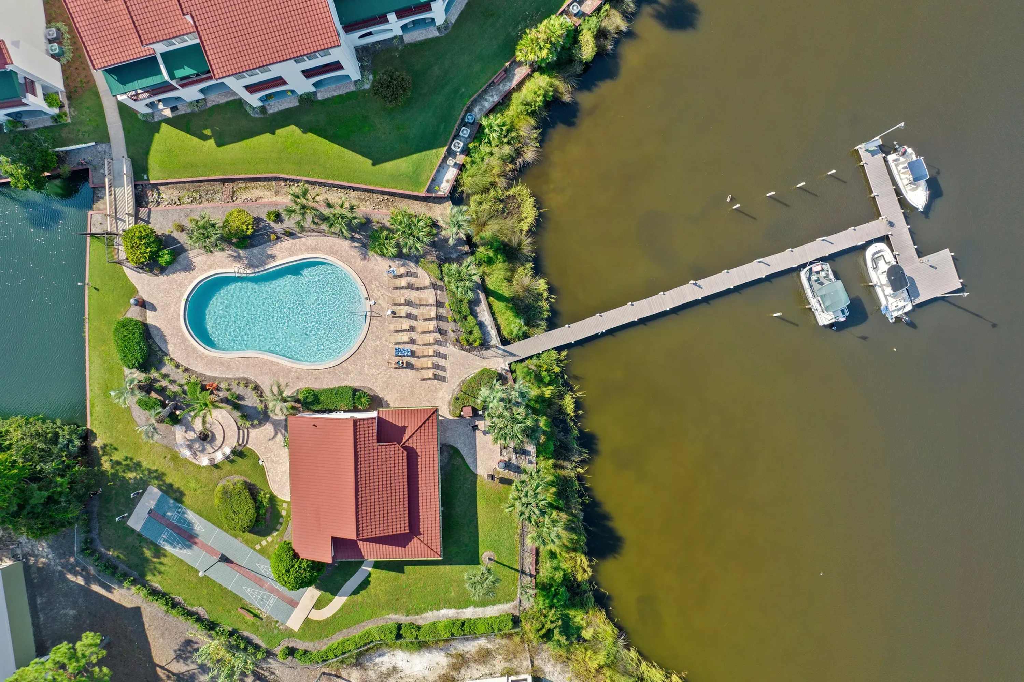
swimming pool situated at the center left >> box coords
[180,254,379,369]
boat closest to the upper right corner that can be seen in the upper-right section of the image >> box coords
[888,144,930,213]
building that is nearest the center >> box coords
[287,406,444,559]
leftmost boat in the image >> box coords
[805,260,847,332]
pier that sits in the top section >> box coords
[502,144,962,365]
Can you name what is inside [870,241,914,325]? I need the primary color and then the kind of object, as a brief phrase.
white boat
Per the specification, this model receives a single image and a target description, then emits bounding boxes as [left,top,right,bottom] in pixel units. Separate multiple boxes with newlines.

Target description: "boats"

[870,241,914,325]
[888,144,930,213]
[805,260,847,332]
